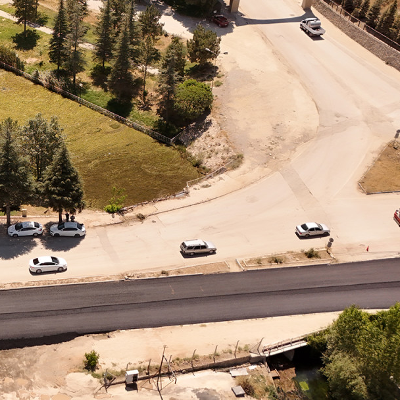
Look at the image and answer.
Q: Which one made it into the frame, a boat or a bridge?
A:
bridge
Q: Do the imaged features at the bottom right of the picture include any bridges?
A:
Yes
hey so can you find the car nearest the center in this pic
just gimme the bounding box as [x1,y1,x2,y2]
[179,239,218,256]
